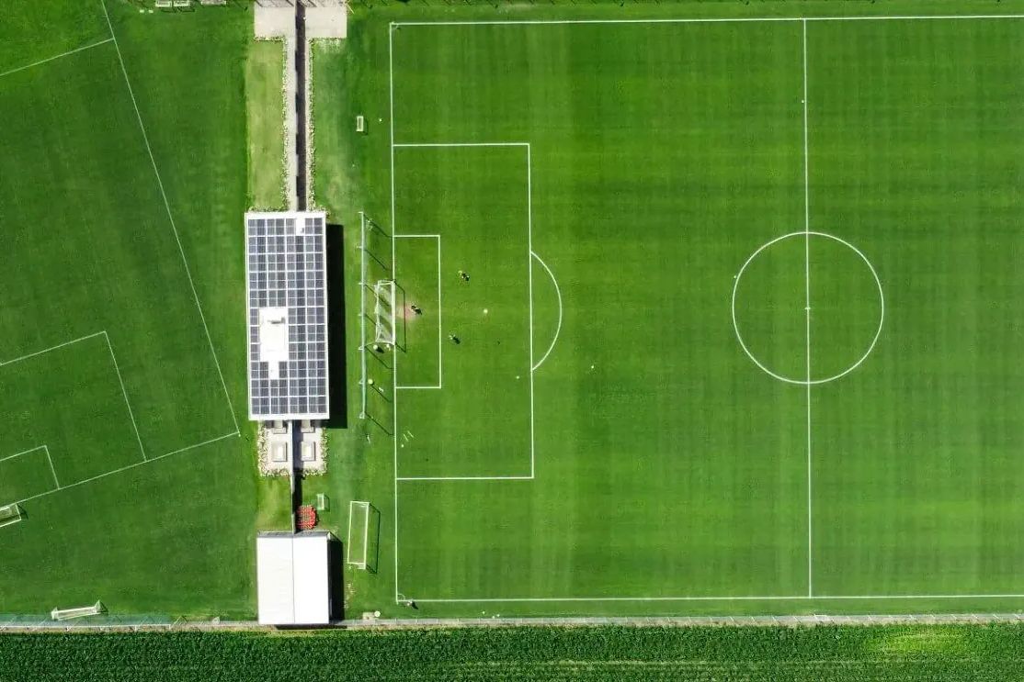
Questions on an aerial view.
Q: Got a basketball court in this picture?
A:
No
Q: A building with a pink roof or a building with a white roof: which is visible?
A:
building with a white roof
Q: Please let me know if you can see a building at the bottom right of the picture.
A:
No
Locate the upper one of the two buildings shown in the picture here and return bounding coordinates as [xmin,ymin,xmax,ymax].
[245,211,333,421]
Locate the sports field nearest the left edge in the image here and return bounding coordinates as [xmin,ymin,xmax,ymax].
[0,0,239,507]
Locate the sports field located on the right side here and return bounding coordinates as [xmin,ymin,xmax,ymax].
[390,15,1024,603]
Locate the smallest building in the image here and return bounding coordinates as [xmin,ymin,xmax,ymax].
[258,533,332,626]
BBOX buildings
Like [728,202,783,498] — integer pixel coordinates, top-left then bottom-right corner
[245,211,333,421]
[258,533,332,626]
